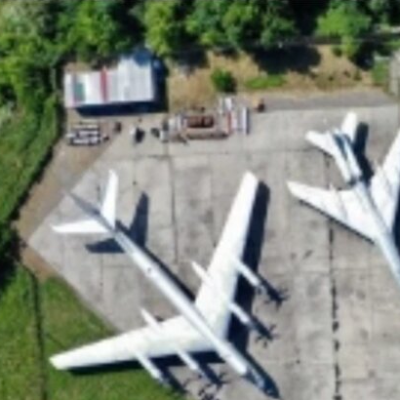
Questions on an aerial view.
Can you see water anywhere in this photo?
No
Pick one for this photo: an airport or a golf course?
airport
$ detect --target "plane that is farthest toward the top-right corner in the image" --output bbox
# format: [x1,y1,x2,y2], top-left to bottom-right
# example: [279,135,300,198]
[288,109,400,285]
